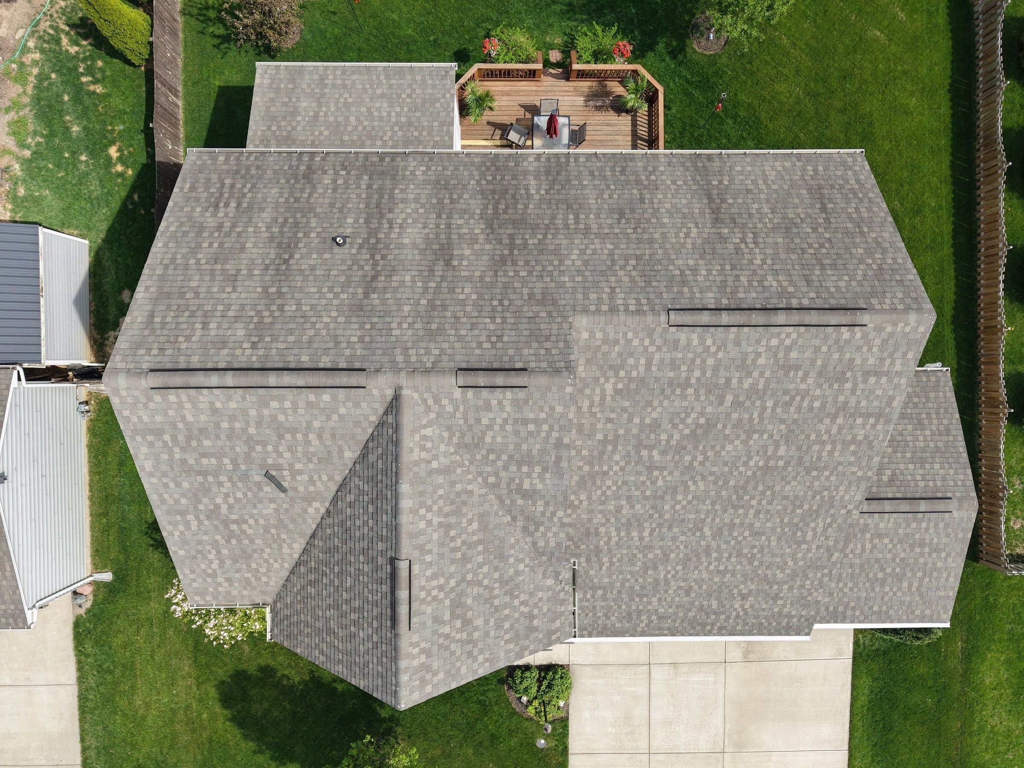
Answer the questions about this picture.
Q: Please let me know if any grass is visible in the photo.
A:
Yes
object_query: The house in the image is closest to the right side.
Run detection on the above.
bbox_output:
[102,60,978,713]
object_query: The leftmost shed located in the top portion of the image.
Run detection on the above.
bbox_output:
[0,219,89,369]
